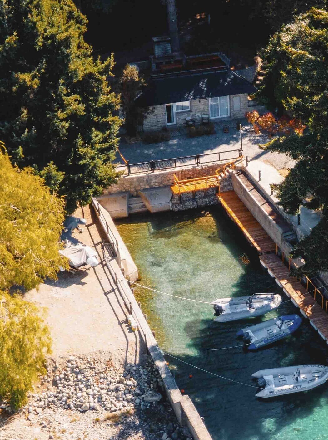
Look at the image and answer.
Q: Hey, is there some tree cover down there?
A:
Yes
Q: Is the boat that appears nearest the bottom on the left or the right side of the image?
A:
right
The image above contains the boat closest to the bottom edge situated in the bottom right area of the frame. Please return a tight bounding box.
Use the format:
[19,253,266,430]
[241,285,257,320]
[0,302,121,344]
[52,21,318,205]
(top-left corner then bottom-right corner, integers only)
[247,364,328,400]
